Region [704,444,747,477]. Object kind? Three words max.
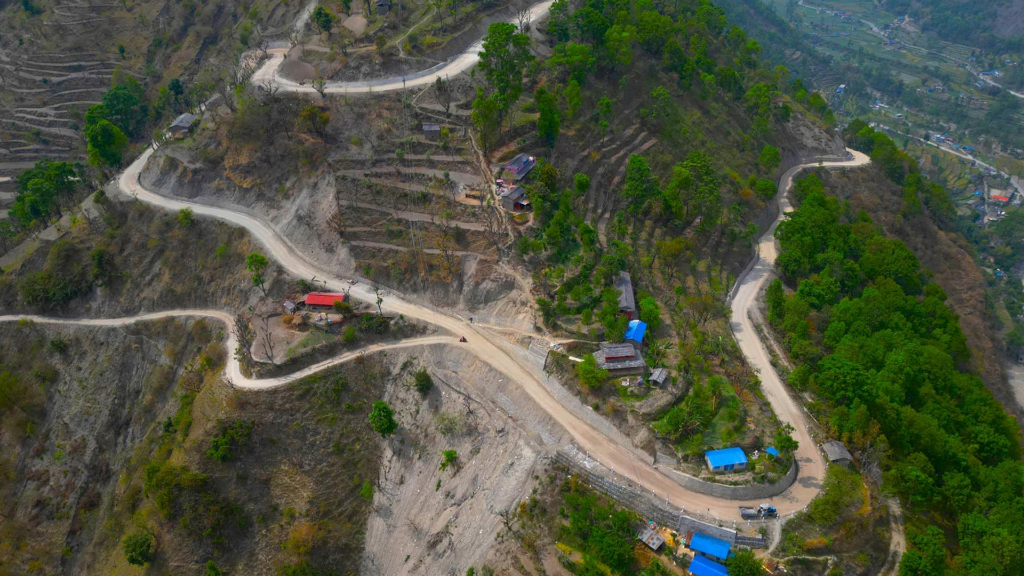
house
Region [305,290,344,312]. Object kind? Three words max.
house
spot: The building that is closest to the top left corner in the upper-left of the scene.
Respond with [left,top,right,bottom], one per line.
[169,119,198,137]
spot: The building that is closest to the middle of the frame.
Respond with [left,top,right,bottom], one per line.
[496,184,531,210]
